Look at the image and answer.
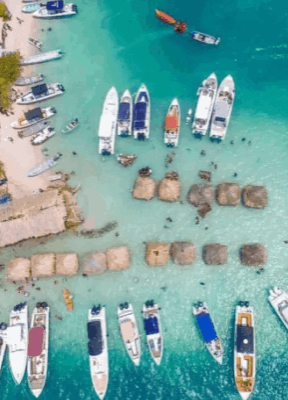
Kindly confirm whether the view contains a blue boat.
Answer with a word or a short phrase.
Yes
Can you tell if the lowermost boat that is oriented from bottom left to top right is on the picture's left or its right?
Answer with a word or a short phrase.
left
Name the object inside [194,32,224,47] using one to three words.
boat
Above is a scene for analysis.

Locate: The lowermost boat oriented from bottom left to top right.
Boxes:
[28,154,64,176]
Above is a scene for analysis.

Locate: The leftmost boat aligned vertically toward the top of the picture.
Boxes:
[98,86,119,159]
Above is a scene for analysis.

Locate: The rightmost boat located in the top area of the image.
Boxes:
[210,74,234,145]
